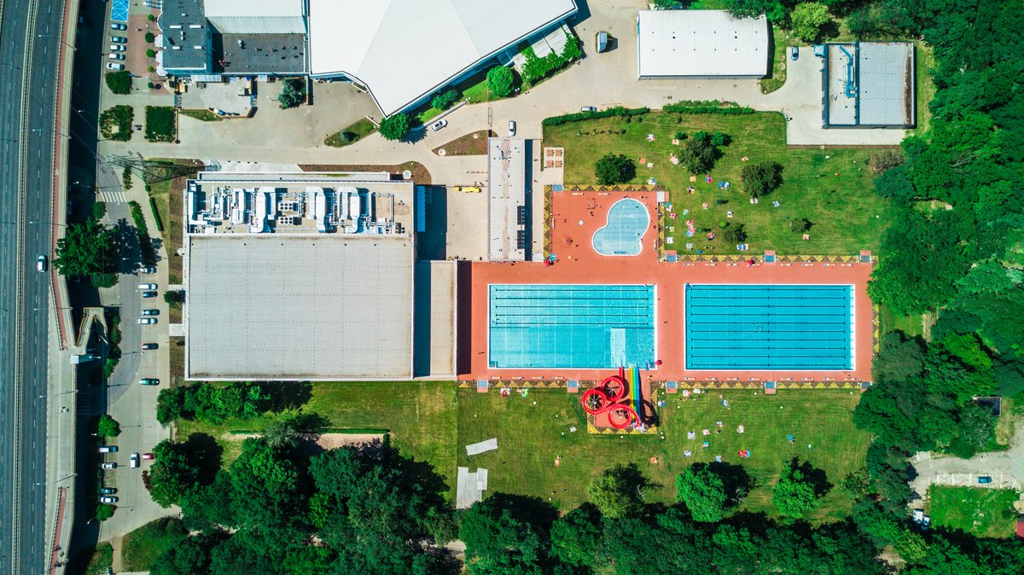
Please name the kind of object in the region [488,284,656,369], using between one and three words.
swimming pool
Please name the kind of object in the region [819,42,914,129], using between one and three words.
building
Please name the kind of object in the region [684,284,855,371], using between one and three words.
swimming pool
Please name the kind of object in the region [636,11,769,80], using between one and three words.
building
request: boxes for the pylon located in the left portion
[90,148,159,186]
